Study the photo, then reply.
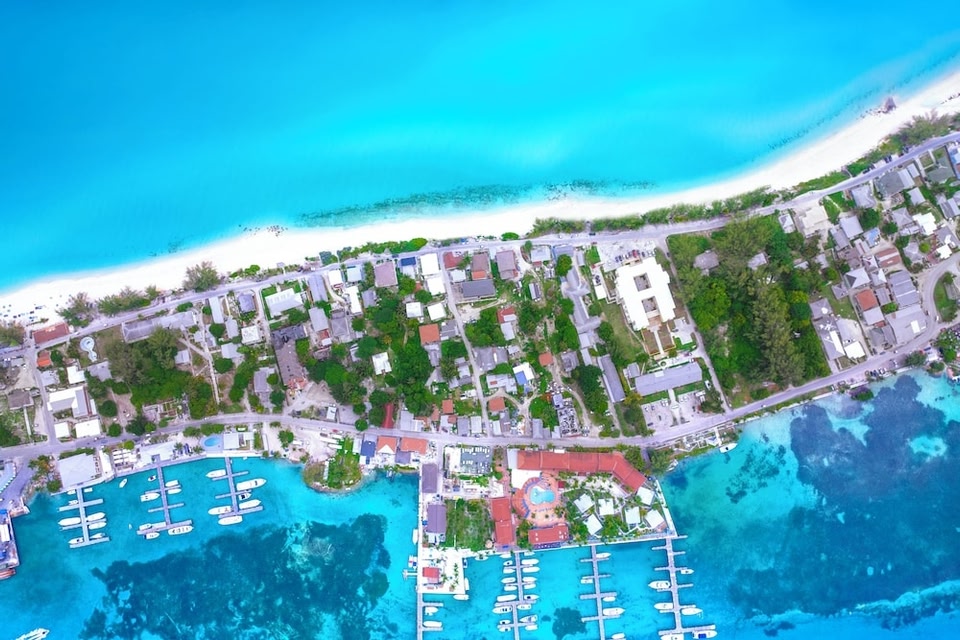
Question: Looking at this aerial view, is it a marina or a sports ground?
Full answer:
The picture captures a marina.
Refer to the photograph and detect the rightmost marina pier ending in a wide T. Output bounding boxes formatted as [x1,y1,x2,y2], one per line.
[651,534,716,636]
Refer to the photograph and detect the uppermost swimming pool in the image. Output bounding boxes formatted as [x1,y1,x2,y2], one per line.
[200,435,224,451]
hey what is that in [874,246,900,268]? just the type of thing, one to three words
house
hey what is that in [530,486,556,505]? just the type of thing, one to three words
swimming pool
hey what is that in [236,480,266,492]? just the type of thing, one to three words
boat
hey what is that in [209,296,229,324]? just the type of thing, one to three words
building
